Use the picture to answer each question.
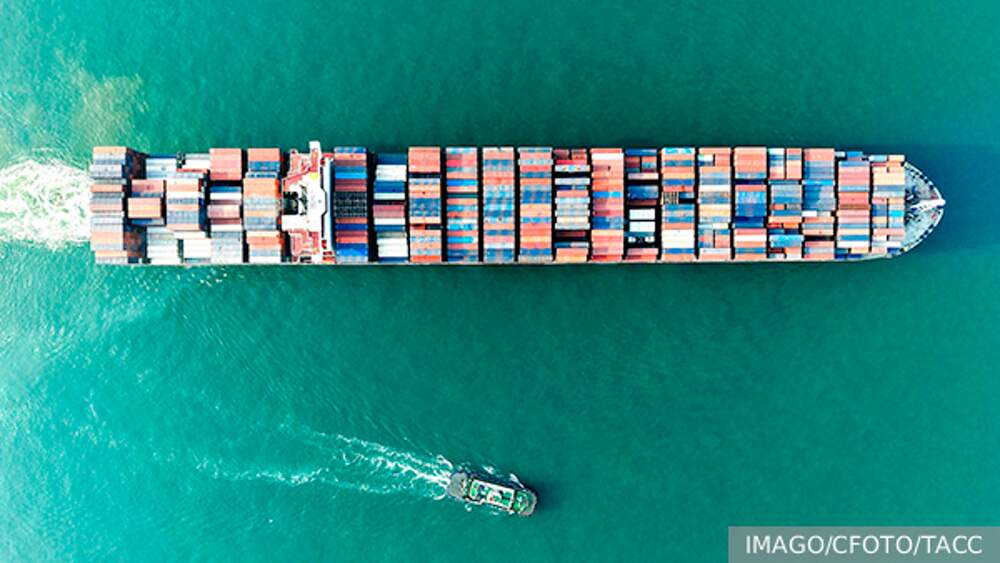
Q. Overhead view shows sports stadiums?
No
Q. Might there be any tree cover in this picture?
No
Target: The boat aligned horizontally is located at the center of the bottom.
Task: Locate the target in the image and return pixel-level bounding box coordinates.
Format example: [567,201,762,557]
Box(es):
[447,470,536,513]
